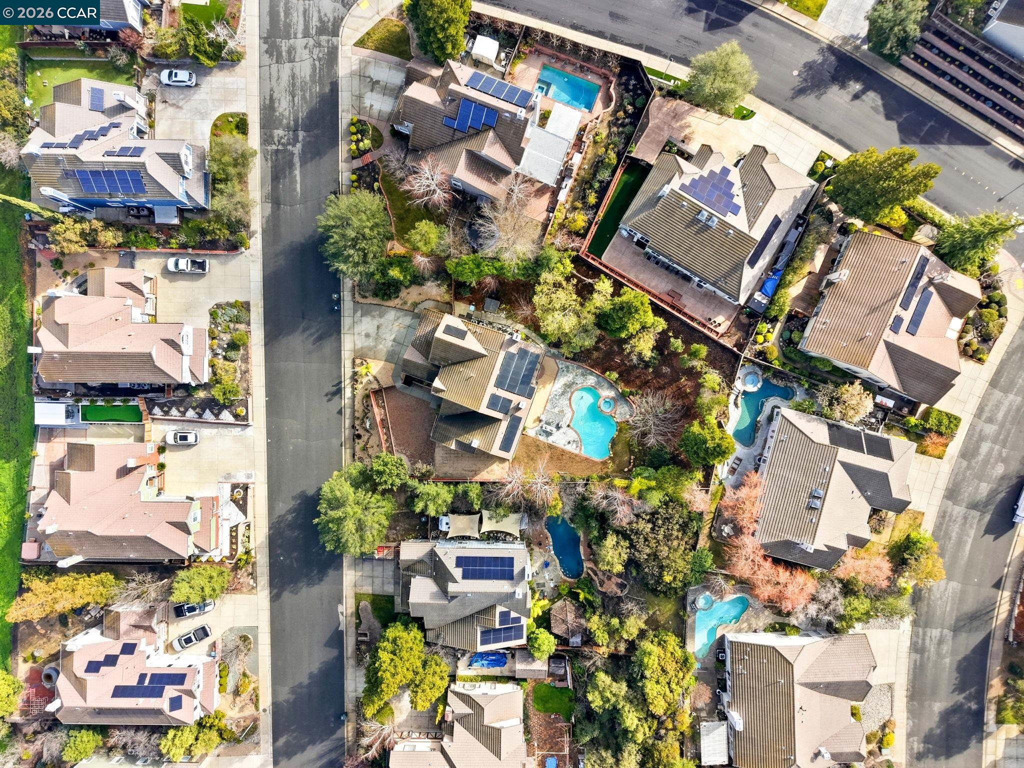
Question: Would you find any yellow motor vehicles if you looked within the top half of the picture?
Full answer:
No, there is no yellow motor vehicle within the top half of the picture.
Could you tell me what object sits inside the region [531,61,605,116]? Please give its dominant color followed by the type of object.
blue swimming pool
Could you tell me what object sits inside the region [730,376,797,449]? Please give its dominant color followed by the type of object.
blue swimming pool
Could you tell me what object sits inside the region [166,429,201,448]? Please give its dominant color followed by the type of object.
white car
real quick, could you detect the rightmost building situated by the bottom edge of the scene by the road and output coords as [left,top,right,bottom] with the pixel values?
[712,625,877,768]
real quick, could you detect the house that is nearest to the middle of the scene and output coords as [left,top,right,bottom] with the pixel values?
[398,308,547,460]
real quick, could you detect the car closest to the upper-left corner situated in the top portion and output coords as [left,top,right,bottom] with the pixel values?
[161,68,197,87]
